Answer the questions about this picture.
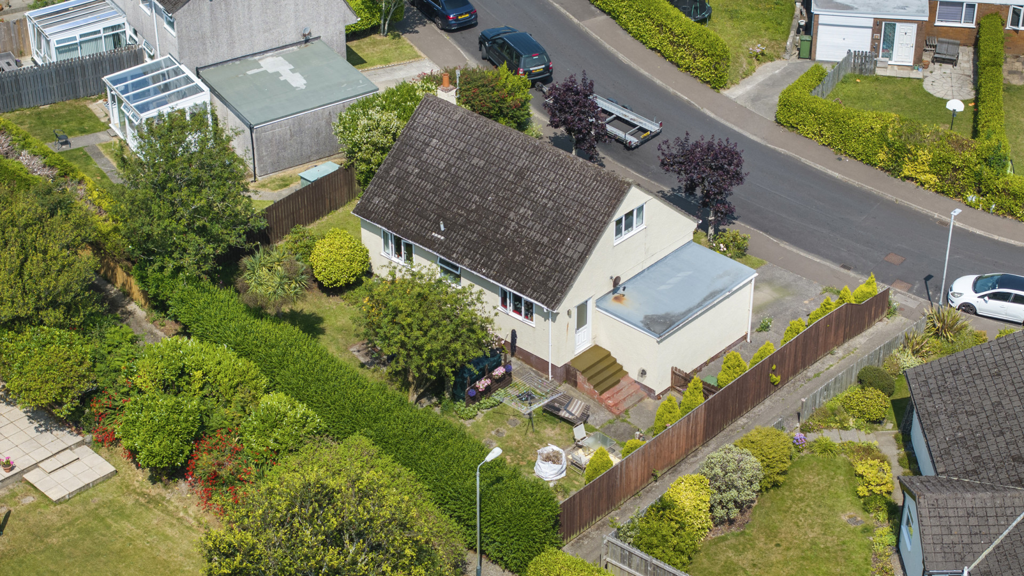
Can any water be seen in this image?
No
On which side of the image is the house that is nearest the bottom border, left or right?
right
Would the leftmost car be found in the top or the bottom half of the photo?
top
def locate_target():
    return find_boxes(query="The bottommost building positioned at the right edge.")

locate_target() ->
[899,327,1024,576]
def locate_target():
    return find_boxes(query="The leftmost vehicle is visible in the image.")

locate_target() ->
[416,0,475,27]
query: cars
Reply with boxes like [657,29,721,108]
[481,32,552,85]
[416,0,475,27]
[951,276,1024,328]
